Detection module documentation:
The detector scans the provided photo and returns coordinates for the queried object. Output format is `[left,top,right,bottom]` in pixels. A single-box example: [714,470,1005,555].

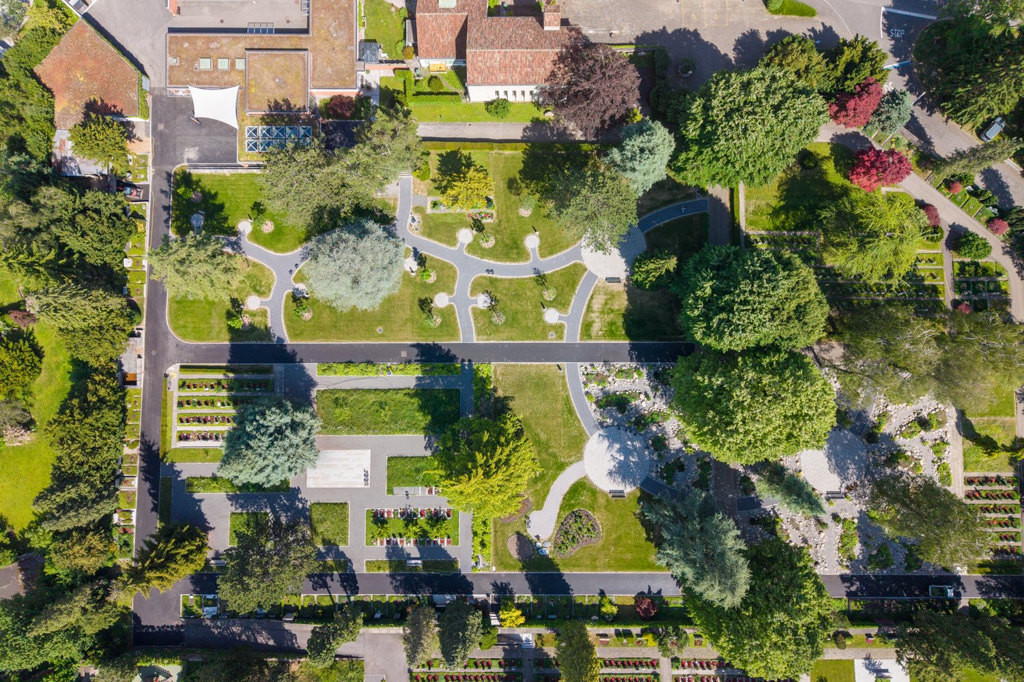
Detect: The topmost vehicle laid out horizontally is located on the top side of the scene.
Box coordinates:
[105,184,137,197]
